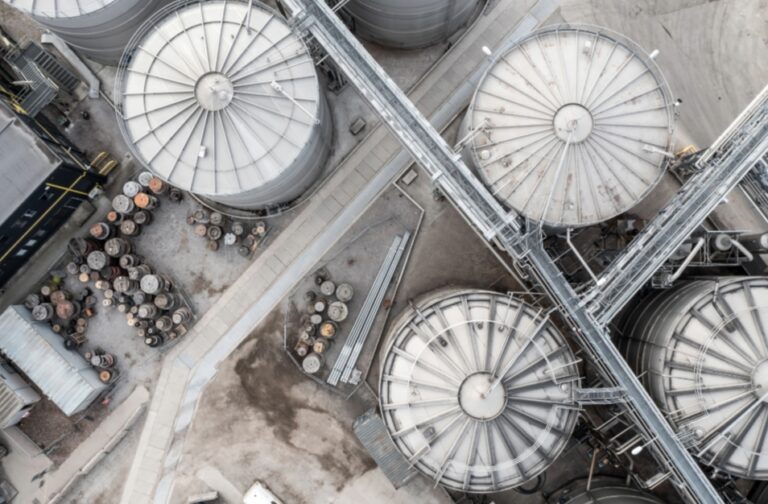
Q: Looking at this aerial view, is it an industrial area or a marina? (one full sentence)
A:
It's an industrial area.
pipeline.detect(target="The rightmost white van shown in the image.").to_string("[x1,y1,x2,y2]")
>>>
[245,473,299,504]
